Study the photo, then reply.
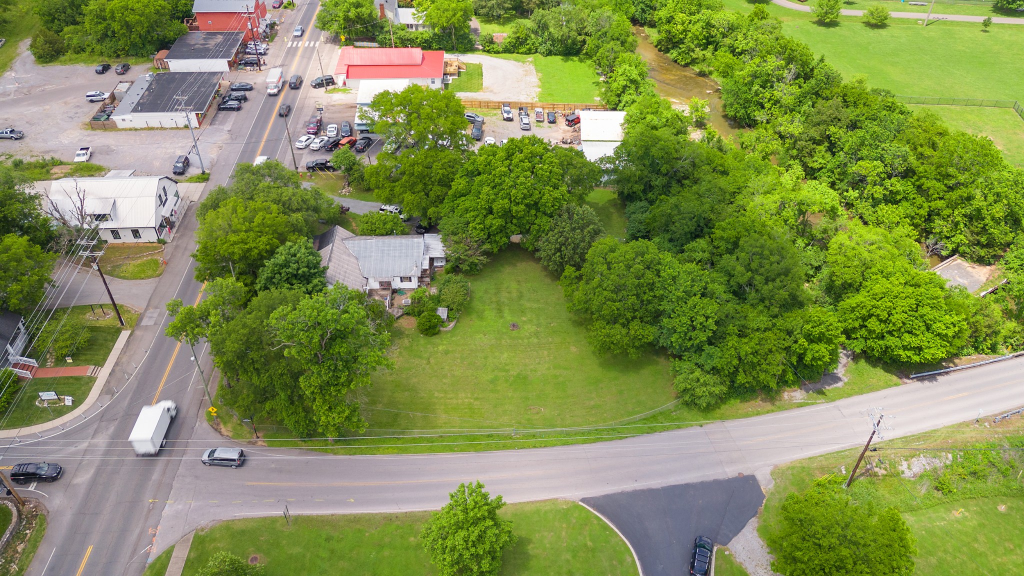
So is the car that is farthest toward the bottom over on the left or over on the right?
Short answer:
right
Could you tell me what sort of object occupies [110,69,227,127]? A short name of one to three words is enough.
building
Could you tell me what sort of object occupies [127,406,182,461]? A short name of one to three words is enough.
truck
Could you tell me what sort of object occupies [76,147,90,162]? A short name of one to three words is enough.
vehicle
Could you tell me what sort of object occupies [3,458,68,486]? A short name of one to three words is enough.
car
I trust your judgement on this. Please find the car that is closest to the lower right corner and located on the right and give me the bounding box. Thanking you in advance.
[685,533,716,576]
